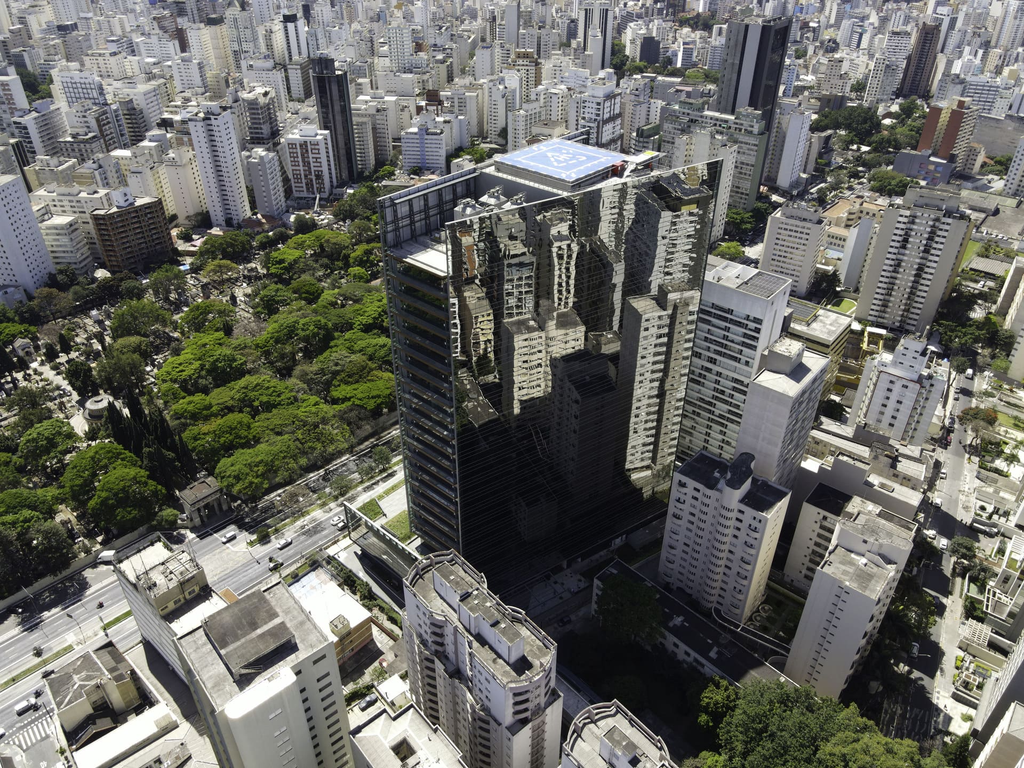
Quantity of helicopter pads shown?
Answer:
1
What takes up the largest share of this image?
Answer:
buildings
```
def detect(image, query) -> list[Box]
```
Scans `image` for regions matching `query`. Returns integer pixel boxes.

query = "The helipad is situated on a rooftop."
[494,137,627,190]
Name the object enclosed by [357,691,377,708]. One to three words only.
car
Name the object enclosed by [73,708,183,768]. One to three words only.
shed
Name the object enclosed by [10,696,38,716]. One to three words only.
vehicle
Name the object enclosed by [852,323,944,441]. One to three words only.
building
